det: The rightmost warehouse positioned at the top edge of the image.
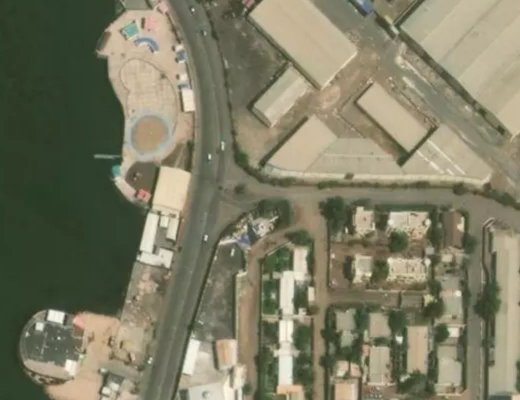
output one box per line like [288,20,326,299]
[400,0,520,140]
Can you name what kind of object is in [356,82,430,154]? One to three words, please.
building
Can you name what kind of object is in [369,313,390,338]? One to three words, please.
house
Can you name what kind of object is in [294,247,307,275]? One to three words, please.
house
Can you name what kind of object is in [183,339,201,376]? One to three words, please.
shed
